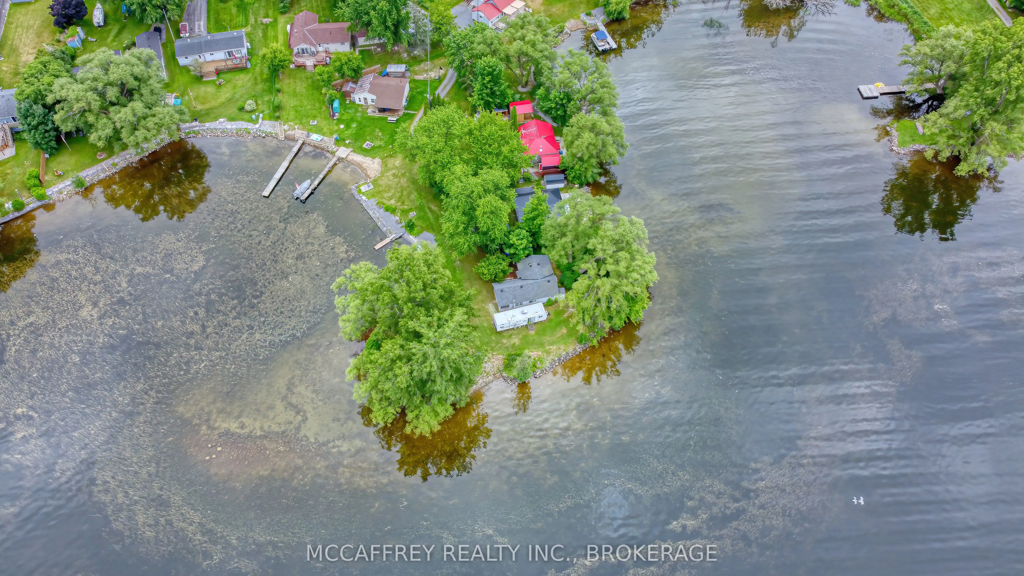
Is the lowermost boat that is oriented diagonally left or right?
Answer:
left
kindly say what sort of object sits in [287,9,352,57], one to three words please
house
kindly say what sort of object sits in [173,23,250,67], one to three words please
house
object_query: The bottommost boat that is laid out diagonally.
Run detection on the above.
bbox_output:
[289,177,309,199]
